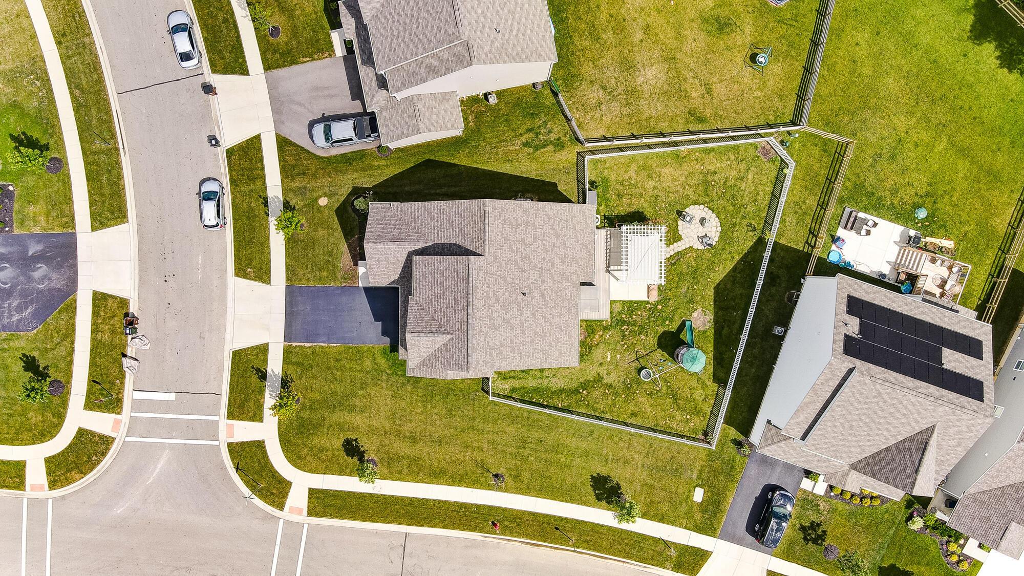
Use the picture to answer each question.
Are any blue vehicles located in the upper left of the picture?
No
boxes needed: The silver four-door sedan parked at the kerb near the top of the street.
[167,10,202,69]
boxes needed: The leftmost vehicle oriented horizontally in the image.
[311,116,381,147]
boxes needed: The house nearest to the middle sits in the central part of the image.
[364,199,597,379]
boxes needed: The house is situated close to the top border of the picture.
[338,0,558,149]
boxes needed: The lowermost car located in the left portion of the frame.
[197,179,228,230]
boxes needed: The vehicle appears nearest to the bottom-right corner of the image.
[755,485,796,549]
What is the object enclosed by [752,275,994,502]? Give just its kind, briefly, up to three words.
house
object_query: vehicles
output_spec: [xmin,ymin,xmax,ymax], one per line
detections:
[167,10,202,69]
[311,116,381,147]
[755,485,796,549]
[197,179,228,230]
